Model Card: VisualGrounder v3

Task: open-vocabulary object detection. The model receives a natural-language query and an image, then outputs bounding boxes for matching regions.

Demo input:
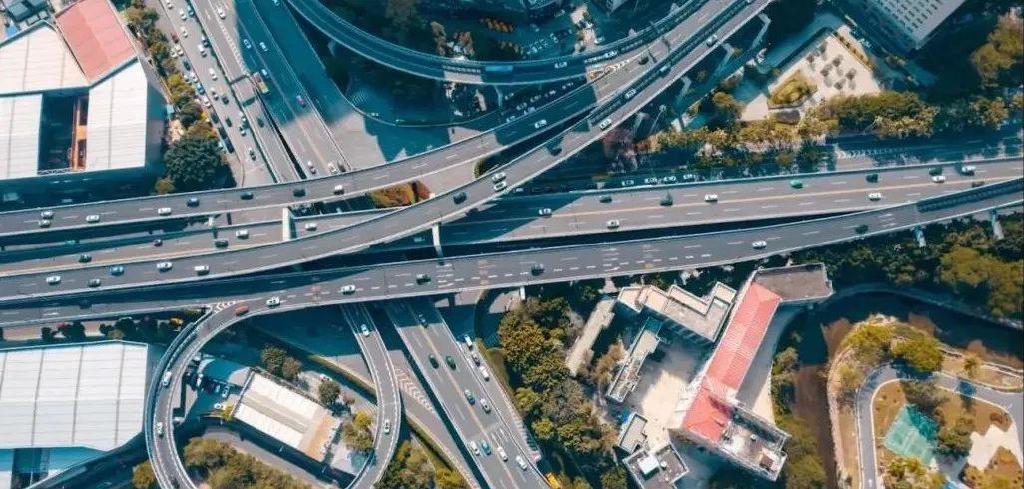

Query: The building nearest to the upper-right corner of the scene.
[851,0,967,63]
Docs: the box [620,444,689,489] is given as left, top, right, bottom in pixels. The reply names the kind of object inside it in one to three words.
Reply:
building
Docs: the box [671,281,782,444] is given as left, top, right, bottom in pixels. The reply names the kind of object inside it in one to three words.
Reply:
building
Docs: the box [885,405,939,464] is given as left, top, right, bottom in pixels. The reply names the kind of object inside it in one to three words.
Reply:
sports court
